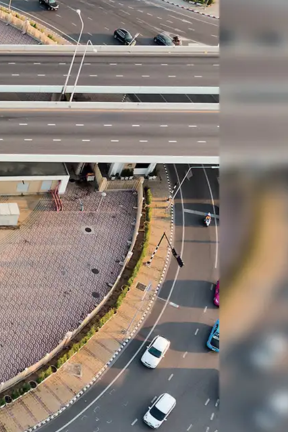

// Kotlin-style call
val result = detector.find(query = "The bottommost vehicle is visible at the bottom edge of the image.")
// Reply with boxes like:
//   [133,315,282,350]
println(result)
[145,393,177,427]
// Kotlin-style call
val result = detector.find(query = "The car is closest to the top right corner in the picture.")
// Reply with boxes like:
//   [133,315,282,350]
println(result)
[152,34,177,46]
